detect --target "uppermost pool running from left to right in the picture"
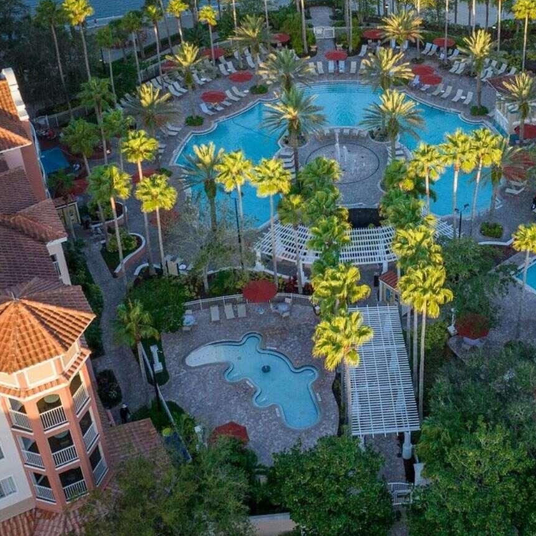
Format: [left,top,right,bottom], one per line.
[171,79,508,232]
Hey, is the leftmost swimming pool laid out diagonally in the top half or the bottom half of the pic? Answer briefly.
bottom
